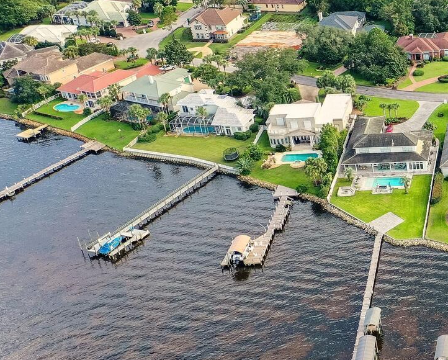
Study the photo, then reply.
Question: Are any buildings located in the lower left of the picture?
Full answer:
No, there's no building to be seen in the lower left of the picture.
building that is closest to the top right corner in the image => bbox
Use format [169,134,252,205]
[396,29,448,62]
